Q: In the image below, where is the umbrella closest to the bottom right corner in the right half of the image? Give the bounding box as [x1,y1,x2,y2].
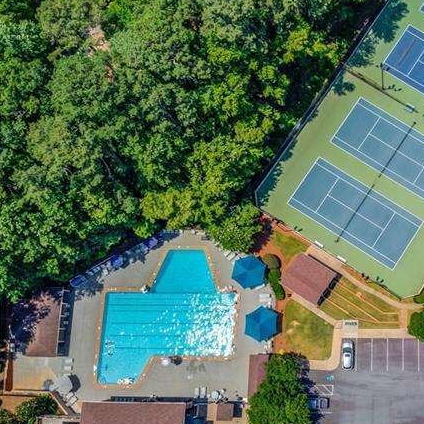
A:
[243,306,276,345]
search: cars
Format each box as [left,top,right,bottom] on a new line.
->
[304,397,330,411]
[340,341,354,369]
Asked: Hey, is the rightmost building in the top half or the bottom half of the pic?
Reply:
bottom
